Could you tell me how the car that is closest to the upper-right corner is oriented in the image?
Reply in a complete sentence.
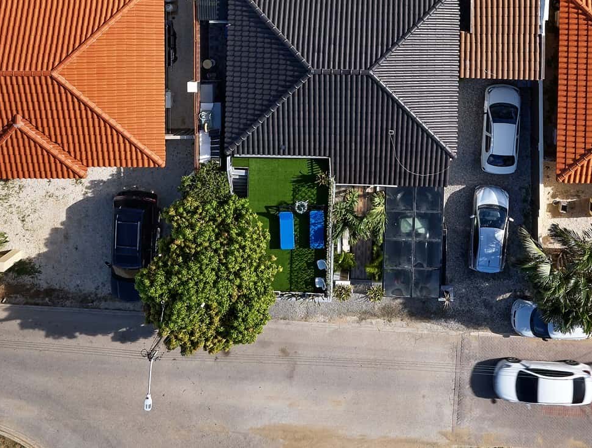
I'd say the car that is closest to the upper-right corner is aligned vertically in the picture.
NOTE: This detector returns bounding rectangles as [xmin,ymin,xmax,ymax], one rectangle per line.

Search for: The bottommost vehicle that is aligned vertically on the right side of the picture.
[468,181,514,275]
